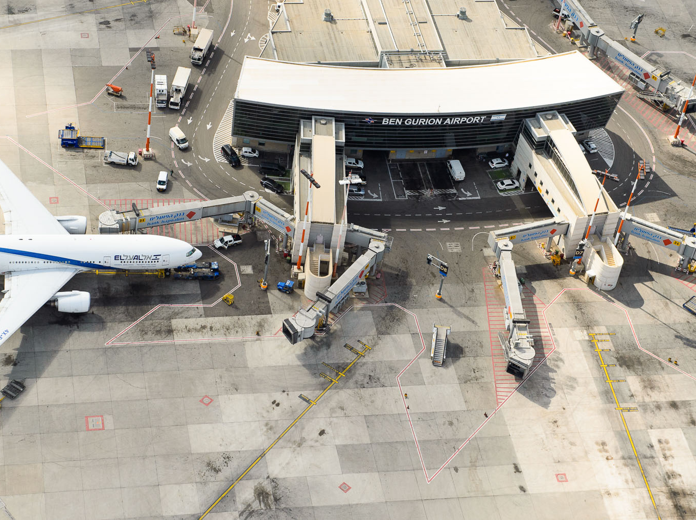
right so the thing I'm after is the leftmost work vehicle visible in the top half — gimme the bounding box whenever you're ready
[58,124,104,149]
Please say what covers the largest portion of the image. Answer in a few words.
paved ground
